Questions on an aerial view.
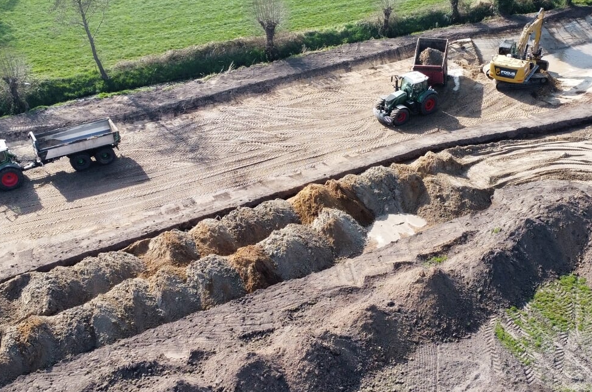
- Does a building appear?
No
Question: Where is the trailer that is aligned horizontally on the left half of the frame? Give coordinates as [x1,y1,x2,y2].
[19,116,123,177]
